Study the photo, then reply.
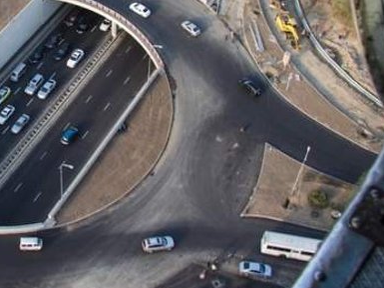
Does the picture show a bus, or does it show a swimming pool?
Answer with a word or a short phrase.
bus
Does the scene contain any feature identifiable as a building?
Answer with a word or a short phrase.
No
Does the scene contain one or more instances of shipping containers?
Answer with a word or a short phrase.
No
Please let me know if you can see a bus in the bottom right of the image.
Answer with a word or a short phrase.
Yes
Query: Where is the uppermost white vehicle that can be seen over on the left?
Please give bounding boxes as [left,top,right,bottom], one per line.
[128,5,151,19]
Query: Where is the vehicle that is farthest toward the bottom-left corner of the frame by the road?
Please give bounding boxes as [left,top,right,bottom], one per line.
[19,235,43,252]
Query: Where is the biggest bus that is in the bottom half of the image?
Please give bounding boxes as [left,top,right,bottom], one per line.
[257,227,319,259]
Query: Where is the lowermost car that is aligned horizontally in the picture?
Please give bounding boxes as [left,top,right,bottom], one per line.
[238,261,271,279]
